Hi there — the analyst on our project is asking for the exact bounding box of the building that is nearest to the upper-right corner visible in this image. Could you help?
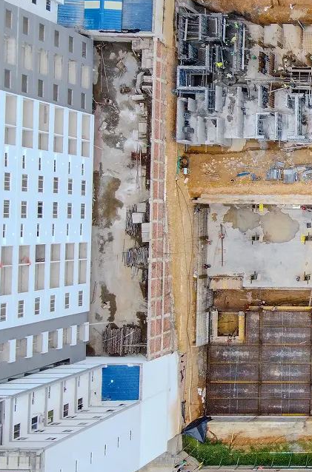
[176,12,312,147]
